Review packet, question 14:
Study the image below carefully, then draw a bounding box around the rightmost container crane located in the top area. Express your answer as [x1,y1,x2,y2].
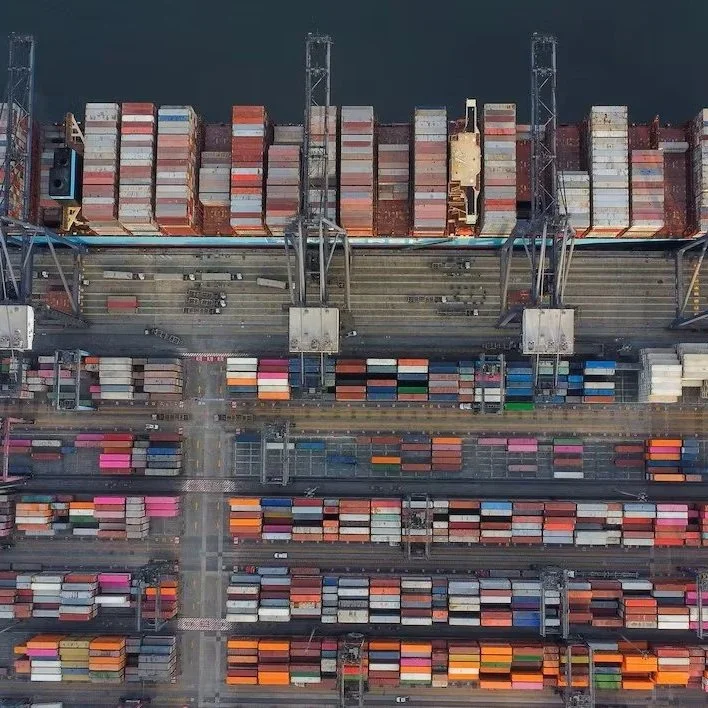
[658,235,708,329]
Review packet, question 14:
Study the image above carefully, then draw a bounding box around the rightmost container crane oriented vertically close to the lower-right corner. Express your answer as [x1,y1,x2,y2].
[673,560,708,642]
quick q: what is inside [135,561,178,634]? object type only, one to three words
container crane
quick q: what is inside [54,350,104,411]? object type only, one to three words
container crane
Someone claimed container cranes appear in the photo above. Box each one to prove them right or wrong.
[673,560,708,642]
[400,488,431,560]
[0,34,100,389]
[525,557,569,640]
[658,235,708,329]
[469,354,505,413]
[485,32,581,393]
[337,620,369,708]
[260,420,298,486]
[287,33,359,391]
[135,561,178,634]
[550,627,595,708]
[54,350,104,411]
[0,418,37,486]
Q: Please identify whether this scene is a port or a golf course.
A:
port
